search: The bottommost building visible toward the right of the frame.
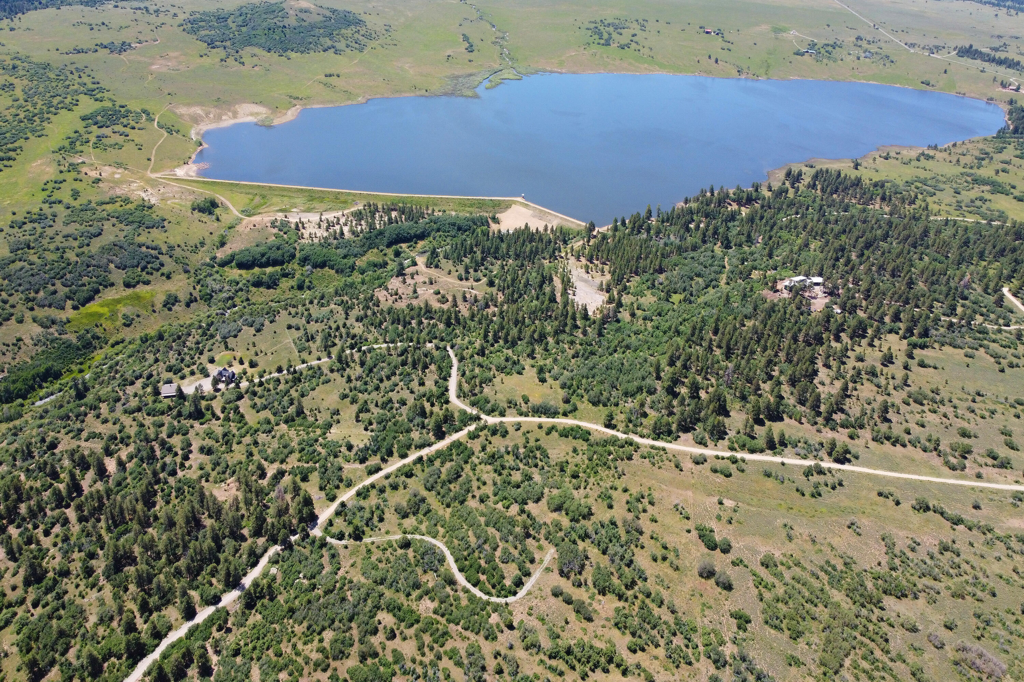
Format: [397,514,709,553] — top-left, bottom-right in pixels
[782,274,820,291]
